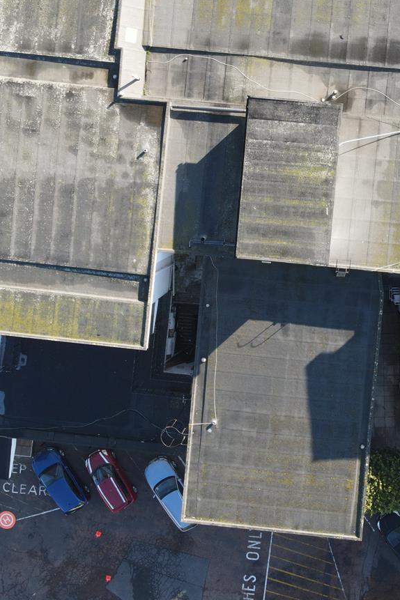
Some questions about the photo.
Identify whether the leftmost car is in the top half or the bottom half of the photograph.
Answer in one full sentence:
Seen from above, the leftmost car lies in the bottom half of the view.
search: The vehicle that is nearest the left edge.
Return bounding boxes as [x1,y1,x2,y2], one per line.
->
[29,448,90,522]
